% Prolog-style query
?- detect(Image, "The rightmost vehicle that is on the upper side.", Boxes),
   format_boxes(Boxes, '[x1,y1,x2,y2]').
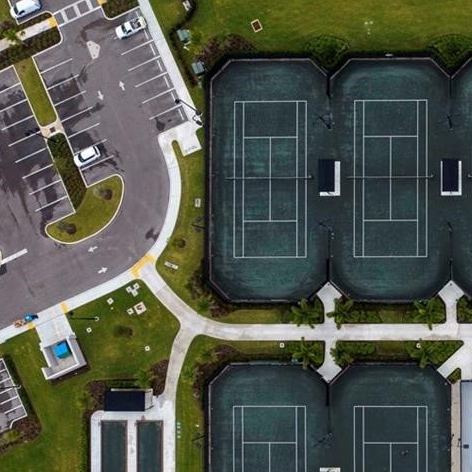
[114,16,148,39]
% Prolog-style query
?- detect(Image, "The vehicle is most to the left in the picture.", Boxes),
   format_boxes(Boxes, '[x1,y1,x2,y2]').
[10,0,43,20]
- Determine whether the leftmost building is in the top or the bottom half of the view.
bottom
